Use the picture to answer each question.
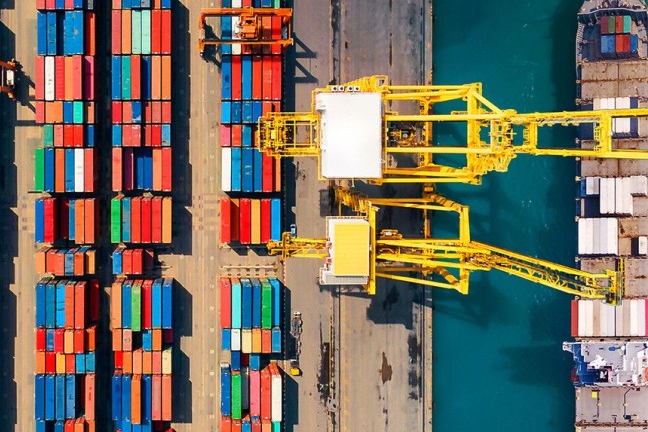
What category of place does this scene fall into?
port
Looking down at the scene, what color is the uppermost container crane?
orange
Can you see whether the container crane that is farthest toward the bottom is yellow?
Yes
